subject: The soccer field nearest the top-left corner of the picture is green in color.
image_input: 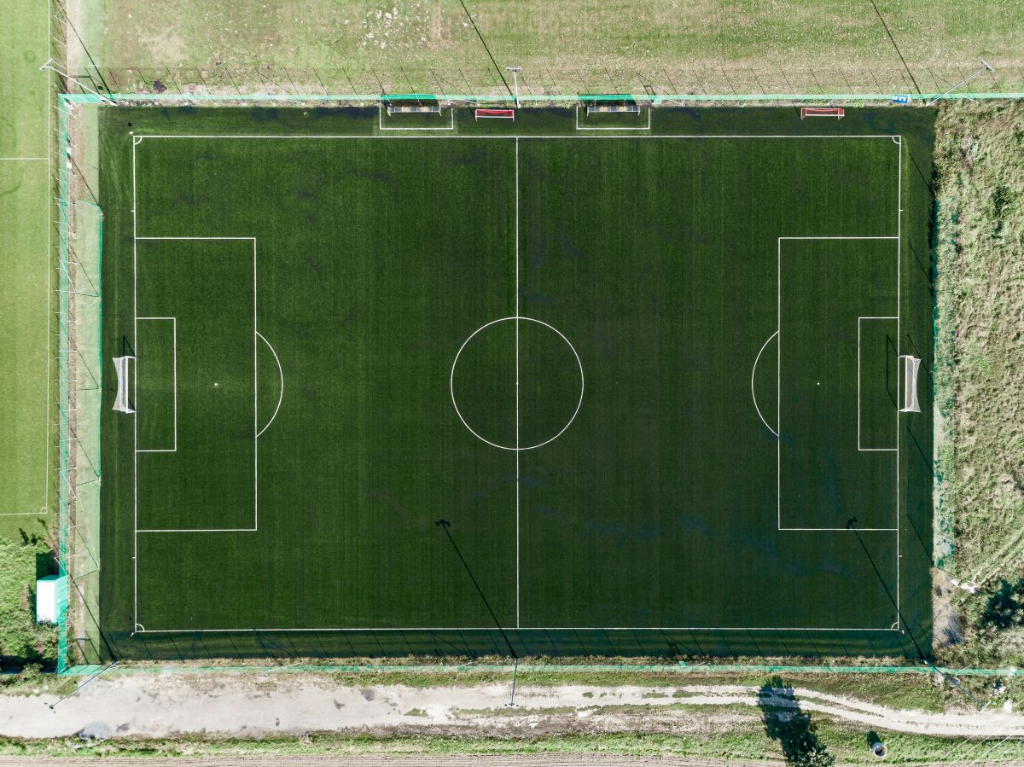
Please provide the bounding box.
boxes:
[0,0,53,529]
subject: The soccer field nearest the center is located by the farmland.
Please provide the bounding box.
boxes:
[99,107,934,657]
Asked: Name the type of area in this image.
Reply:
sports ground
